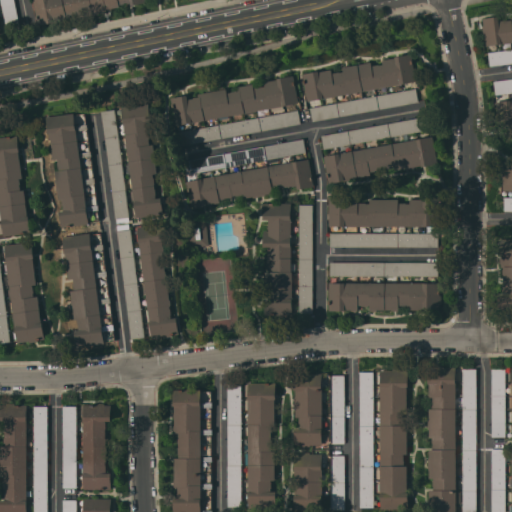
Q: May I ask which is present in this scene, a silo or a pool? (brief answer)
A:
pool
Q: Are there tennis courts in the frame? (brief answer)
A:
Yes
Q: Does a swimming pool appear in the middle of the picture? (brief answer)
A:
Yes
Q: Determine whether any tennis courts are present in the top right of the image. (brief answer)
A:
No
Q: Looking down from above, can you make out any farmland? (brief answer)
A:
No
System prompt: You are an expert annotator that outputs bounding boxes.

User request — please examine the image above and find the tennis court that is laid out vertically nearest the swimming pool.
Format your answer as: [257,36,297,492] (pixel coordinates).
[202,258,239,334]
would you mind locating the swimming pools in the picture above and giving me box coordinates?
[210,214,248,258]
